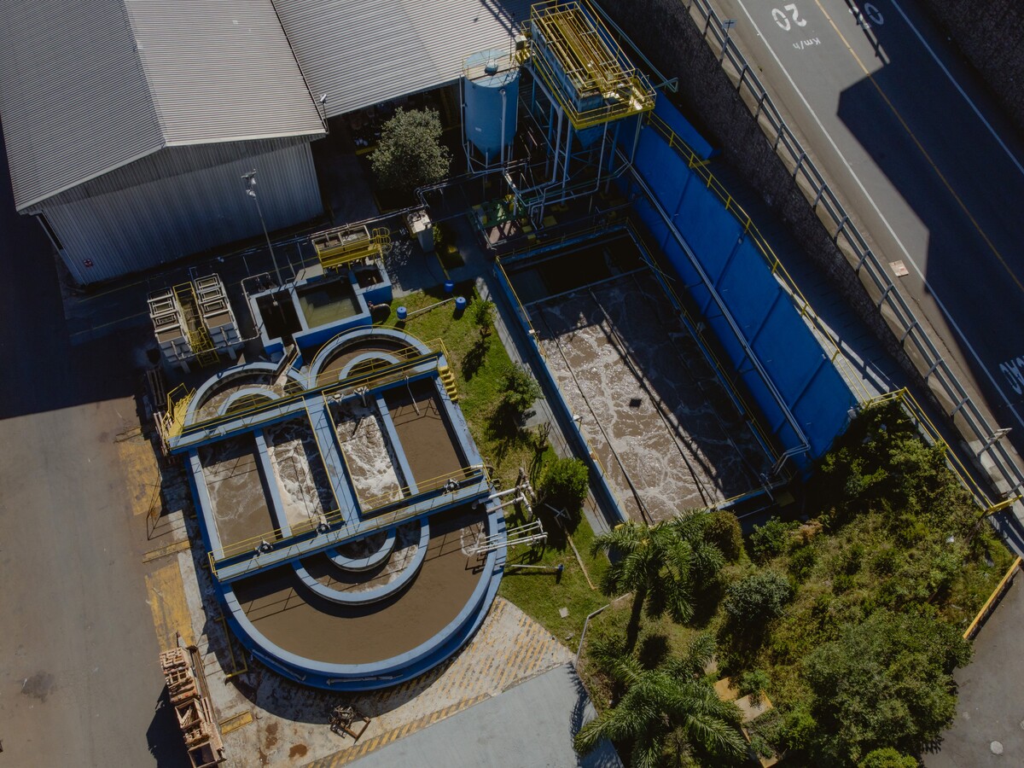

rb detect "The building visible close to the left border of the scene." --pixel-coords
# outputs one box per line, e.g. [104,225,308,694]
[0,0,334,286]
